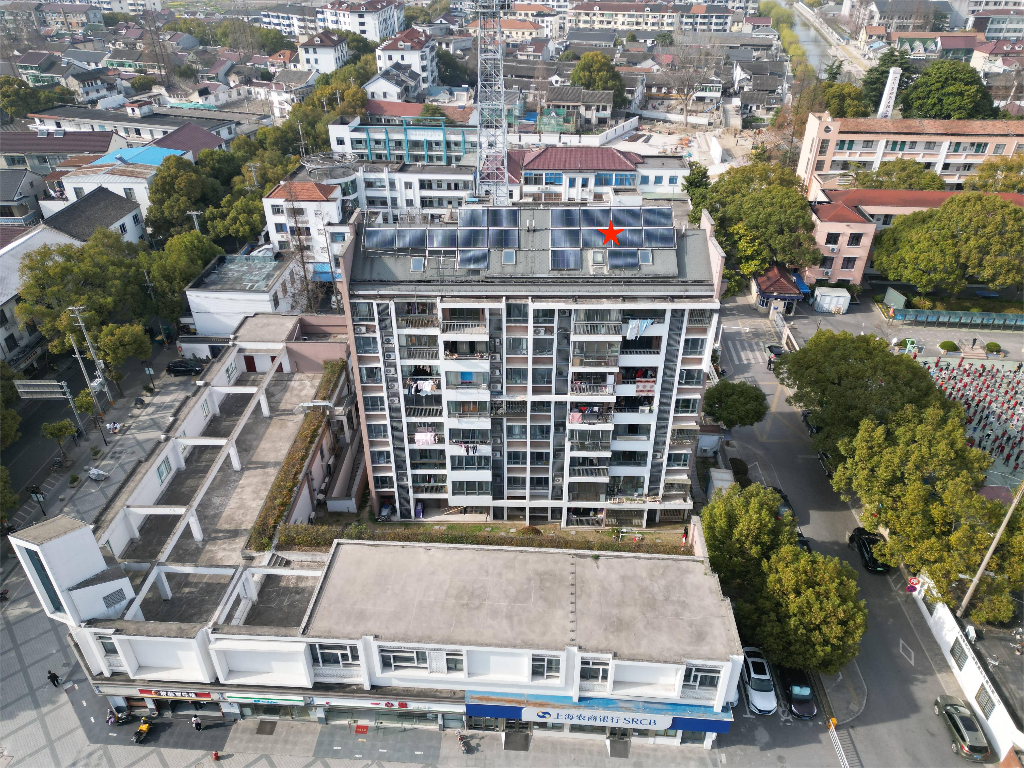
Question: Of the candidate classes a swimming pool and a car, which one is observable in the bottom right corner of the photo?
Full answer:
The one visible in the bottom right corner of the photo is a car.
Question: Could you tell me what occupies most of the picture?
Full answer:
The scene is dominated by buildings.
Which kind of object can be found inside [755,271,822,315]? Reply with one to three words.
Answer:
building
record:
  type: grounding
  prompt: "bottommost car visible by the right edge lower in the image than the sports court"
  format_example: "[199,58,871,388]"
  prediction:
[928,691,1000,760]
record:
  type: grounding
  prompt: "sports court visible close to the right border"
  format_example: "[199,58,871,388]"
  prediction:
[777,350,1024,498]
